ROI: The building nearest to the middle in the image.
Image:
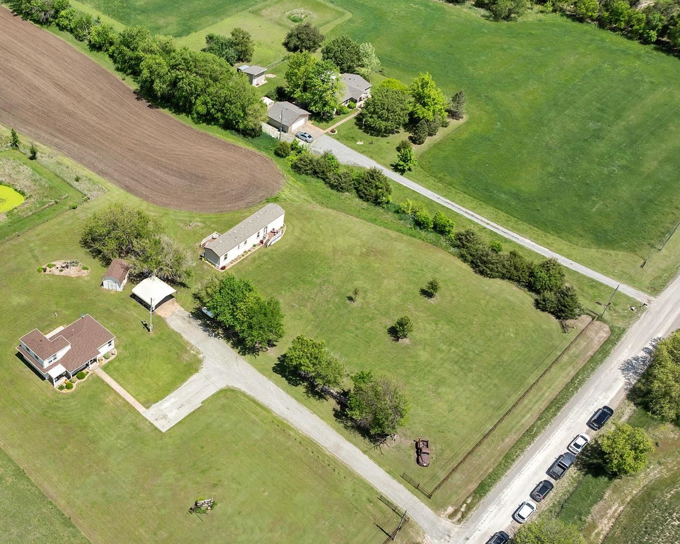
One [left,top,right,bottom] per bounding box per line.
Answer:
[195,203,288,266]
